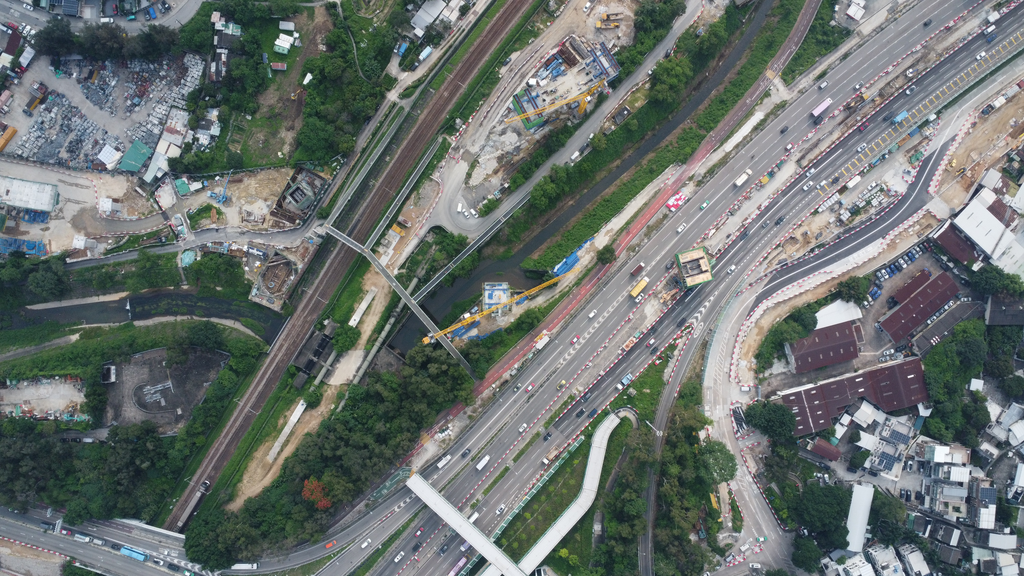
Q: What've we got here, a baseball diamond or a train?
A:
train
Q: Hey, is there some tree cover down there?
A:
Yes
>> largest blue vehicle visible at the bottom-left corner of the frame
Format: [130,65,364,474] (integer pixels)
[118,546,151,563]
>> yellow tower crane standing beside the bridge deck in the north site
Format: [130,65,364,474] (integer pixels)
[504,80,607,123]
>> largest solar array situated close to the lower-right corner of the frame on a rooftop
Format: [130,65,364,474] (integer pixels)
[980,488,998,505]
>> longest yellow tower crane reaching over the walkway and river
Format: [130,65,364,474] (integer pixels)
[423,268,580,346]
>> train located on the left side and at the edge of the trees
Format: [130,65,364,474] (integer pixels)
[170,482,210,539]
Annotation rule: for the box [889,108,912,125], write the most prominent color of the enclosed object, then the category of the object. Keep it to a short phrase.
blue vehicle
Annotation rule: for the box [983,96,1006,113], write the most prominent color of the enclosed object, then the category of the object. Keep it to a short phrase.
white vehicle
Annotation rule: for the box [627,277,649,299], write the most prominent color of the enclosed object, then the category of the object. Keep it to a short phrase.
yellow truck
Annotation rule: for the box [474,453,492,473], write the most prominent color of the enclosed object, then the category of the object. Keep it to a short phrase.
white vehicle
